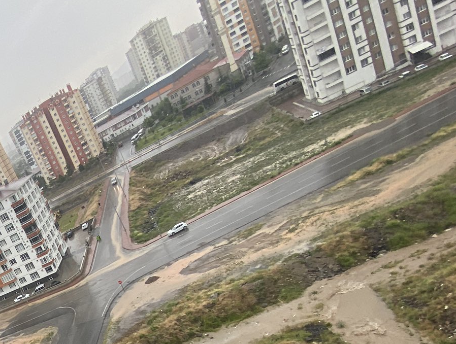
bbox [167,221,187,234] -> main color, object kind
white vehicle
